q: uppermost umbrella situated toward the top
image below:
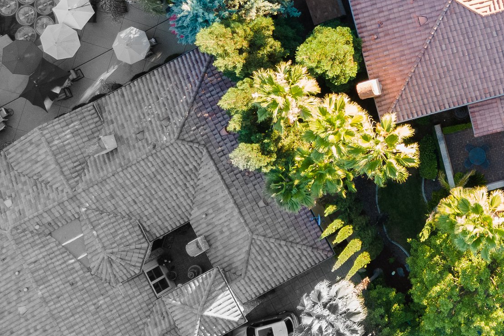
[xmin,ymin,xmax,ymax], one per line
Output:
[59,0,101,34]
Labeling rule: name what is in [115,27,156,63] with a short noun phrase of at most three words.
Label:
umbrella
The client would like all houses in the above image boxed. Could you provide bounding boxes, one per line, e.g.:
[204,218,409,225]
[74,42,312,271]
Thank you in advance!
[0,39,333,336]
[346,0,504,137]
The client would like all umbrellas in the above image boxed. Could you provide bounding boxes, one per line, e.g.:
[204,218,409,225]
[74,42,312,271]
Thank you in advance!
[4,38,51,76]
[43,22,88,61]
[24,69,70,109]
[59,0,101,34]
[115,27,156,63]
